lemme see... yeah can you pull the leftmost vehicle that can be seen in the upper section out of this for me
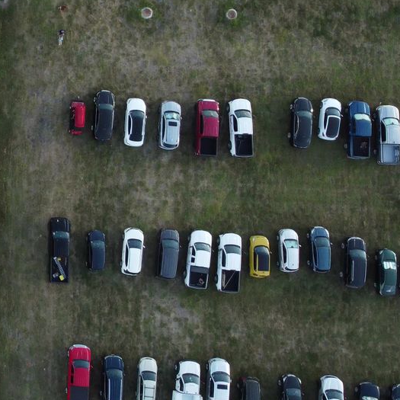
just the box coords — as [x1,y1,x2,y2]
[67,100,88,137]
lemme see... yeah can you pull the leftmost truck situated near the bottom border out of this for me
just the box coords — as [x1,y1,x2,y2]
[65,343,94,400]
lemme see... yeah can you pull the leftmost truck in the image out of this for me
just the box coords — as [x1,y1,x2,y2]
[46,217,74,283]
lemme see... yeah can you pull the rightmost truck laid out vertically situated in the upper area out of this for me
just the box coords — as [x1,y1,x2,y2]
[373,105,400,165]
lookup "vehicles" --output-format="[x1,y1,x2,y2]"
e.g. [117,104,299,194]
[214,232,245,294]
[204,356,233,400]
[175,360,204,400]
[355,382,383,400]
[133,356,161,400]
[121,98,149,146]
[288,98,315,148]
[193,99,223,158]
[246,235,273,279]
[183,229,215,290]
[85,230,110,270]
[276,373,306,400]
[373,248,400,296]
[155,227,182,280]
[46,217,74,283]
[119,227,146,276]
[226,99,256,158]
[317,374,346,400]
[67,100,88,137]
[343,101,374,161]
[156,101,185,150]
[315,98,344,142]
[65,343,94,400]
[90,90,119,140]
[340,236,370,289]
[274,229,301,273]
[373,105,400,165]
[100,354,127,400]
[305,225,335,273]
[237,375,265,400]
